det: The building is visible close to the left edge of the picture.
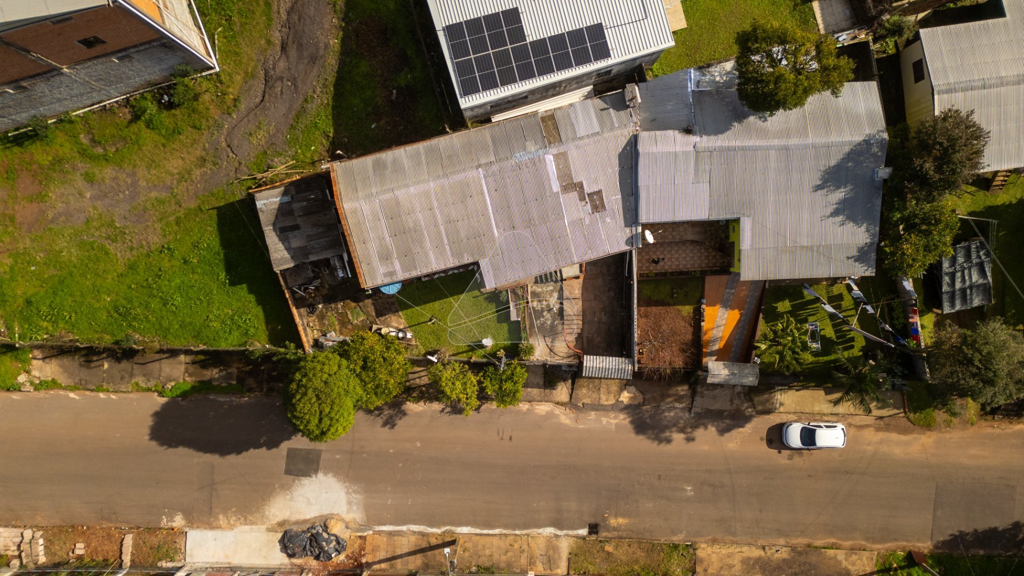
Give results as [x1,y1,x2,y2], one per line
[0,0,219,130]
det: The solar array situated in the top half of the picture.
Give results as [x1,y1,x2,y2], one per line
[444,8,613,97]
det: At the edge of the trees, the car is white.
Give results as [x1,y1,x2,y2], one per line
[780,418,847,449]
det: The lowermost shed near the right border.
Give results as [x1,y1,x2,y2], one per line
[925,239,993,314]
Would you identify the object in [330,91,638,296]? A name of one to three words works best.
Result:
house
